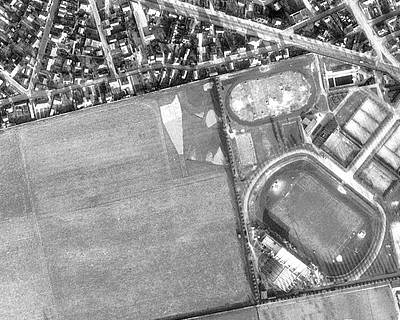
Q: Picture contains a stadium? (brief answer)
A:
Yes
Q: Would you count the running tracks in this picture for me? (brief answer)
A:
2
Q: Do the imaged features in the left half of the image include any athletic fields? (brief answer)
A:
No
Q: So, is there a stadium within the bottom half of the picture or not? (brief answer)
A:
Yes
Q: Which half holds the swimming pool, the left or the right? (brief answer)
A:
right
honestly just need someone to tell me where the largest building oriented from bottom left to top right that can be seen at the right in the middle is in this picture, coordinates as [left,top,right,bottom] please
[312,121,339,148]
